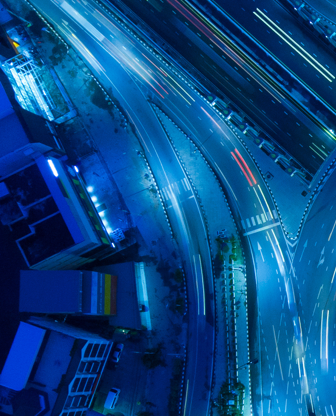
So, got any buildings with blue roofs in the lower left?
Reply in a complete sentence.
Yes, looking in the lower left, one can make out a building with a blue roof.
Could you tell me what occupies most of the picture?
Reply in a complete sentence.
The largest share of the image is taken up by paved ground.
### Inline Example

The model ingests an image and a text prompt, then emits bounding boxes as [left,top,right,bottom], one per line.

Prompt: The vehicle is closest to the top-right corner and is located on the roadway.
[316,62,333,79]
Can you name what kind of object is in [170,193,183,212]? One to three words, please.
vehicle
